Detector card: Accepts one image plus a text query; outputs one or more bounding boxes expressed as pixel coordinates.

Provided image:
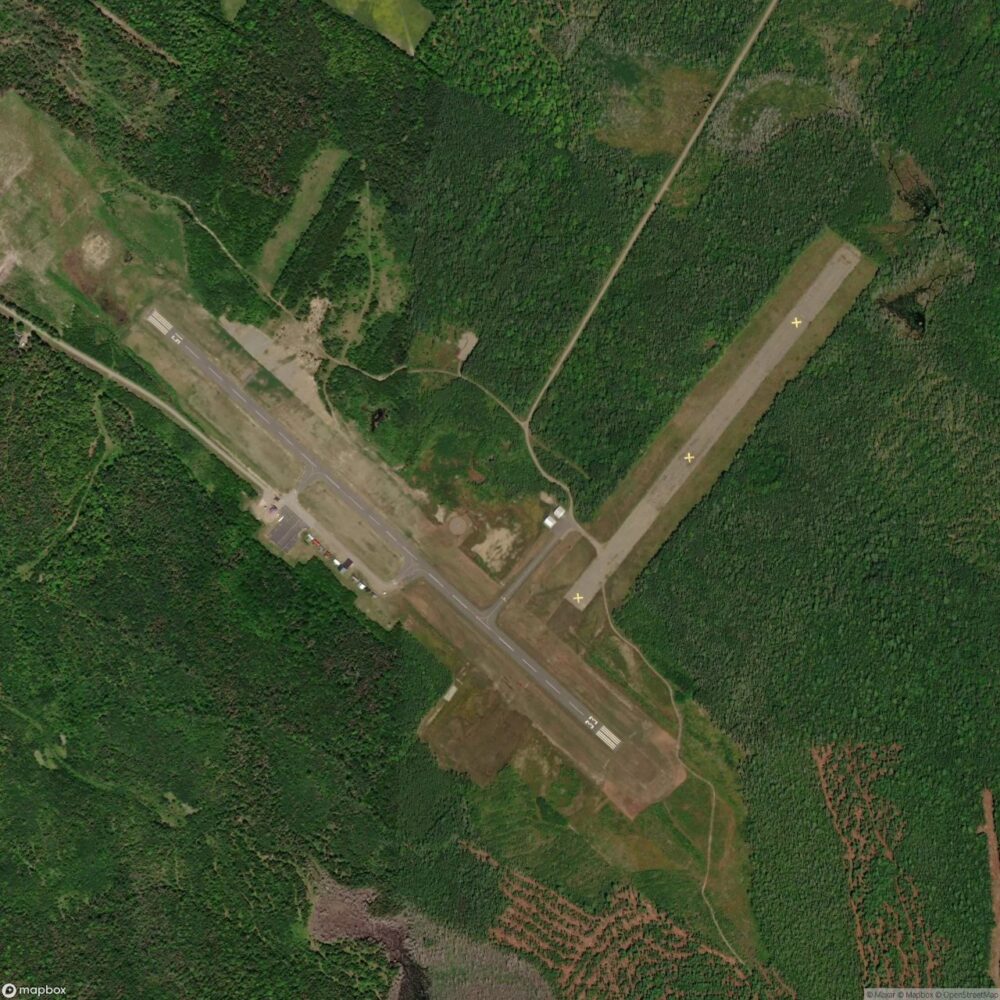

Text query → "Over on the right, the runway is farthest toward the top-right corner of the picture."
[564,244,860,609]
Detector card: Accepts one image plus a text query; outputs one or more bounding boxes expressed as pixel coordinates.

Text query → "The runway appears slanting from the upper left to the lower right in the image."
[145,308,624,753]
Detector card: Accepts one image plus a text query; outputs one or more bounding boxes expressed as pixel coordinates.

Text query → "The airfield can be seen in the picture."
[142,244,860,756]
